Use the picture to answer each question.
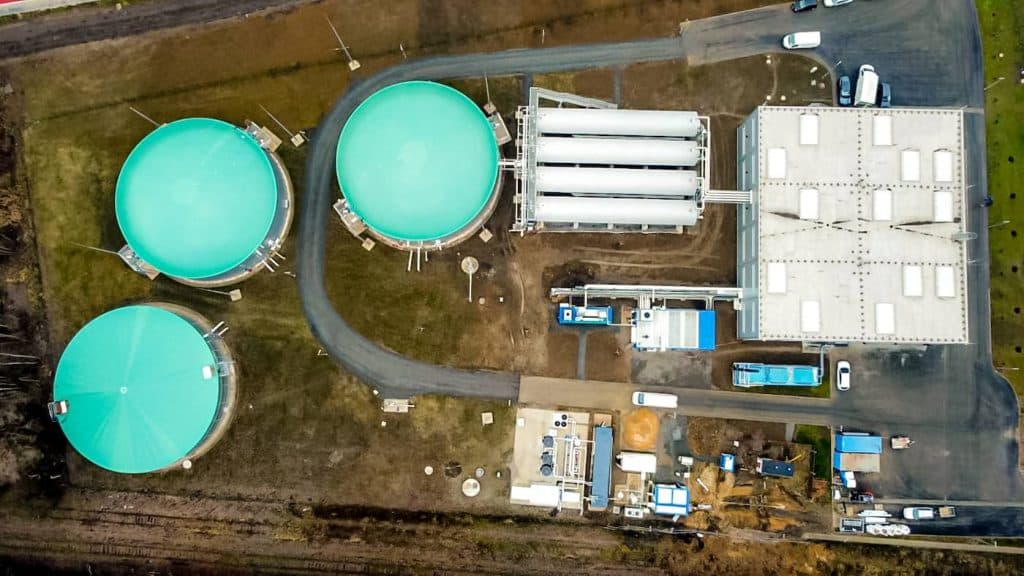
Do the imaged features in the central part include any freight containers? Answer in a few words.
Yes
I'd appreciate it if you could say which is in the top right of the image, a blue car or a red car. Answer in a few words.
blue car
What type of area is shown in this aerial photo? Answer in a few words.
industrial area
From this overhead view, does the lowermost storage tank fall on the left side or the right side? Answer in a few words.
left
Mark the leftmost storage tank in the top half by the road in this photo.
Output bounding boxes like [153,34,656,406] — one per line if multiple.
[114,116,294,287]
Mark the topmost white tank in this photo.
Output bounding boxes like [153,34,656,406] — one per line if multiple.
[538,110,699,139]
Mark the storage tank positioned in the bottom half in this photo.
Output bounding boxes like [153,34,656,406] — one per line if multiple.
[42,301,241,473]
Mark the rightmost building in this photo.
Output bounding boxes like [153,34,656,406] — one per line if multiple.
[737,107,980,343]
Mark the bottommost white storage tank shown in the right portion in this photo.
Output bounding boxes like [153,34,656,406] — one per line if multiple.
[537,197,699,230]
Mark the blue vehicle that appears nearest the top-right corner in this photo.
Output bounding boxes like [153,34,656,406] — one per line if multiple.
[876,82,892,107]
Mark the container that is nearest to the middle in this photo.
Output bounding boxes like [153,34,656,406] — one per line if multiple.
[558,302,613,327]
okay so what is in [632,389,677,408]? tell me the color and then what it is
white vehicle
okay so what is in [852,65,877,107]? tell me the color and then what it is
white truck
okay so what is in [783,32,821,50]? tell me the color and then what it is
white vehicle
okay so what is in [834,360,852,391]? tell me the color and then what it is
white car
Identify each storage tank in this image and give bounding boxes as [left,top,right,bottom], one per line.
[537,197,699,230]
[42,301,241,473]
[538,139,699,168]
[114,116,294,287]
[537,168,699,197]
[330,81,514,273]
[538,110,699,139]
